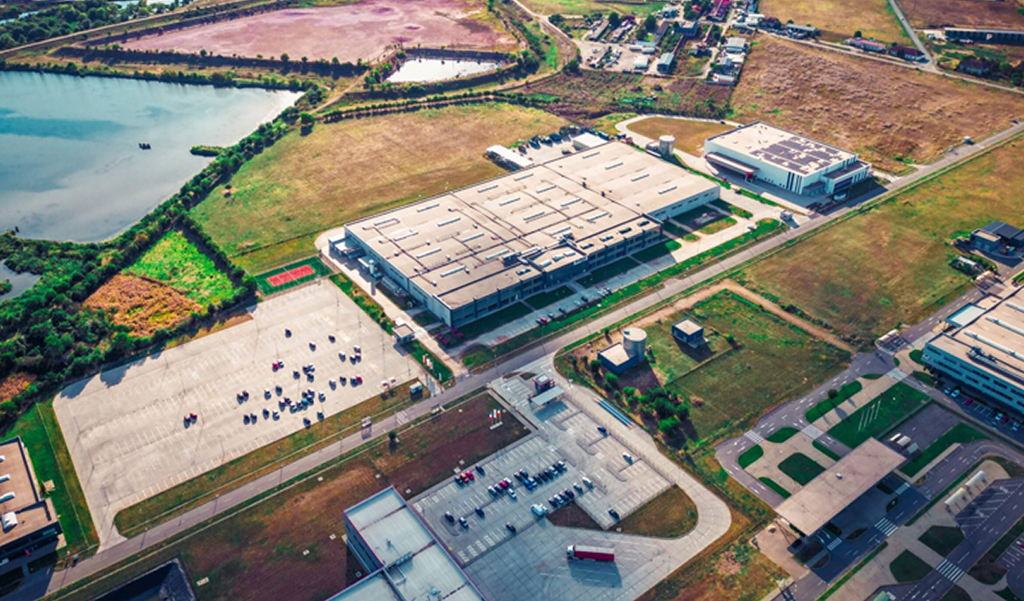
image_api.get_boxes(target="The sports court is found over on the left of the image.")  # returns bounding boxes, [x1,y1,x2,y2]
[253,253,331,295]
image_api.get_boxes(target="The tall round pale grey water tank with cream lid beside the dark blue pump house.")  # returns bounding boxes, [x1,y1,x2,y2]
[622,329,647,363]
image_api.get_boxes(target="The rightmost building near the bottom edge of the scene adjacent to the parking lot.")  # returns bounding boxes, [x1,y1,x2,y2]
[317,483,494,601]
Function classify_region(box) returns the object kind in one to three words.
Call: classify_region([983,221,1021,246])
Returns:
building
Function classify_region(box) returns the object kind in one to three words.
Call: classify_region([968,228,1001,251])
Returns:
building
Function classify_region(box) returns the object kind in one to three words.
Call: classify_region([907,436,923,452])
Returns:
vehicle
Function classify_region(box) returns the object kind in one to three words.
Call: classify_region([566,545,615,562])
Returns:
vehicle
